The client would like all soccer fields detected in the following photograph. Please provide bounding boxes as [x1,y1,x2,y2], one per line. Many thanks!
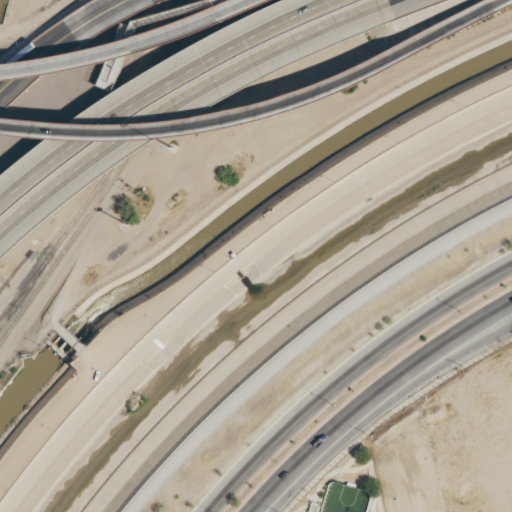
[316,482,370,512]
